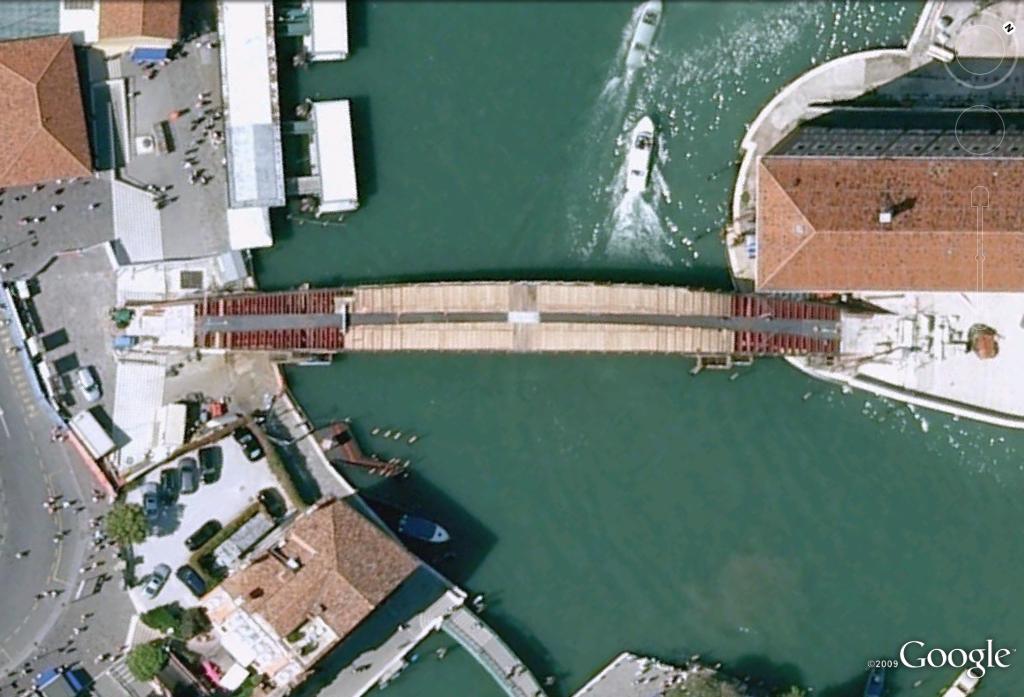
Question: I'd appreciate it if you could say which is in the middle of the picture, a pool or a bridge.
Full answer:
There is a bridge in the middle of the picture.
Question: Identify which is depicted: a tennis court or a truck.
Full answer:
Of the two, only a truck appears.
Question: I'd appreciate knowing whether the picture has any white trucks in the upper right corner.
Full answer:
No, I see no white truck in the upper right corner.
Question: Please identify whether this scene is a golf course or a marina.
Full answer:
What you see here is a marina.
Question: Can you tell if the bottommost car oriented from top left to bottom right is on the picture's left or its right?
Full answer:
It is on the left.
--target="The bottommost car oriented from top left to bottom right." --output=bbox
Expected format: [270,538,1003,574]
[175,563,206,599]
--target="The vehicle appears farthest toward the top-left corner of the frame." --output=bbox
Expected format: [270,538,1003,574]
[112,336,138,349]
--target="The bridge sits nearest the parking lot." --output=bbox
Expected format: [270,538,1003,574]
[190,279,846,356]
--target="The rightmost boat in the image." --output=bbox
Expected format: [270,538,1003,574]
[947,667,981,697]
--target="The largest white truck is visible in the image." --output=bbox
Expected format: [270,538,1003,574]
[72,411,119,466]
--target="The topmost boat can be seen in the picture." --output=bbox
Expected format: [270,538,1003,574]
[625,0,661,70]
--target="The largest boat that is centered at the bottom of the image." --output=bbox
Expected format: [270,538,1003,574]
[396,514,448,540]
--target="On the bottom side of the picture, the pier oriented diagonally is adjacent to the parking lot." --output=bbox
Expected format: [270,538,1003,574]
[318,421,404,476]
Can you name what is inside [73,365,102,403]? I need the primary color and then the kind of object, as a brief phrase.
white car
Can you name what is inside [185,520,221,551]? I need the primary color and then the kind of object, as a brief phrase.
black car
